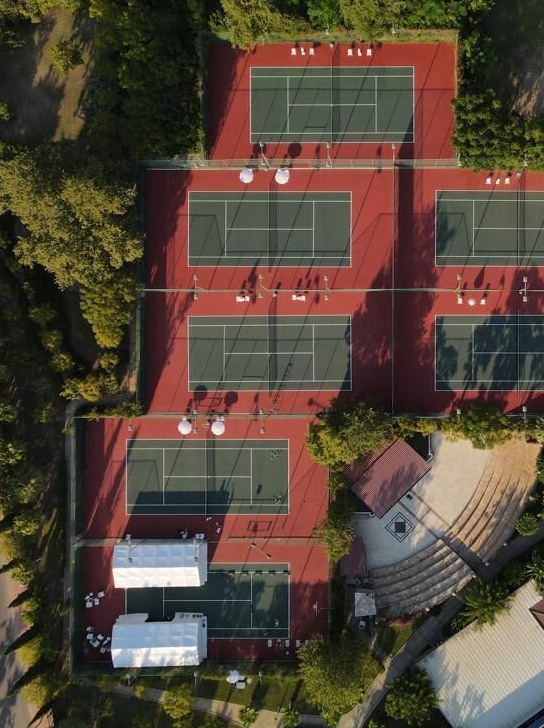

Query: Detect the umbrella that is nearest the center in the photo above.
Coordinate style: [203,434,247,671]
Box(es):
[211,419,225,433]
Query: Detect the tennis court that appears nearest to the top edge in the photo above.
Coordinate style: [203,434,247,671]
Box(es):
[206,43,457,168]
